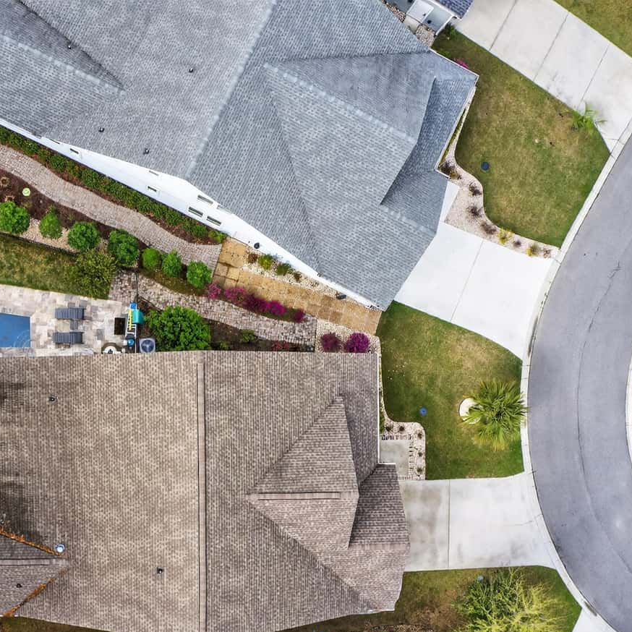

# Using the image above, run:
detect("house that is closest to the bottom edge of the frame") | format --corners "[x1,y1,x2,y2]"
[0,353,409,632]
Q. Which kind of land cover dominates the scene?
buildings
